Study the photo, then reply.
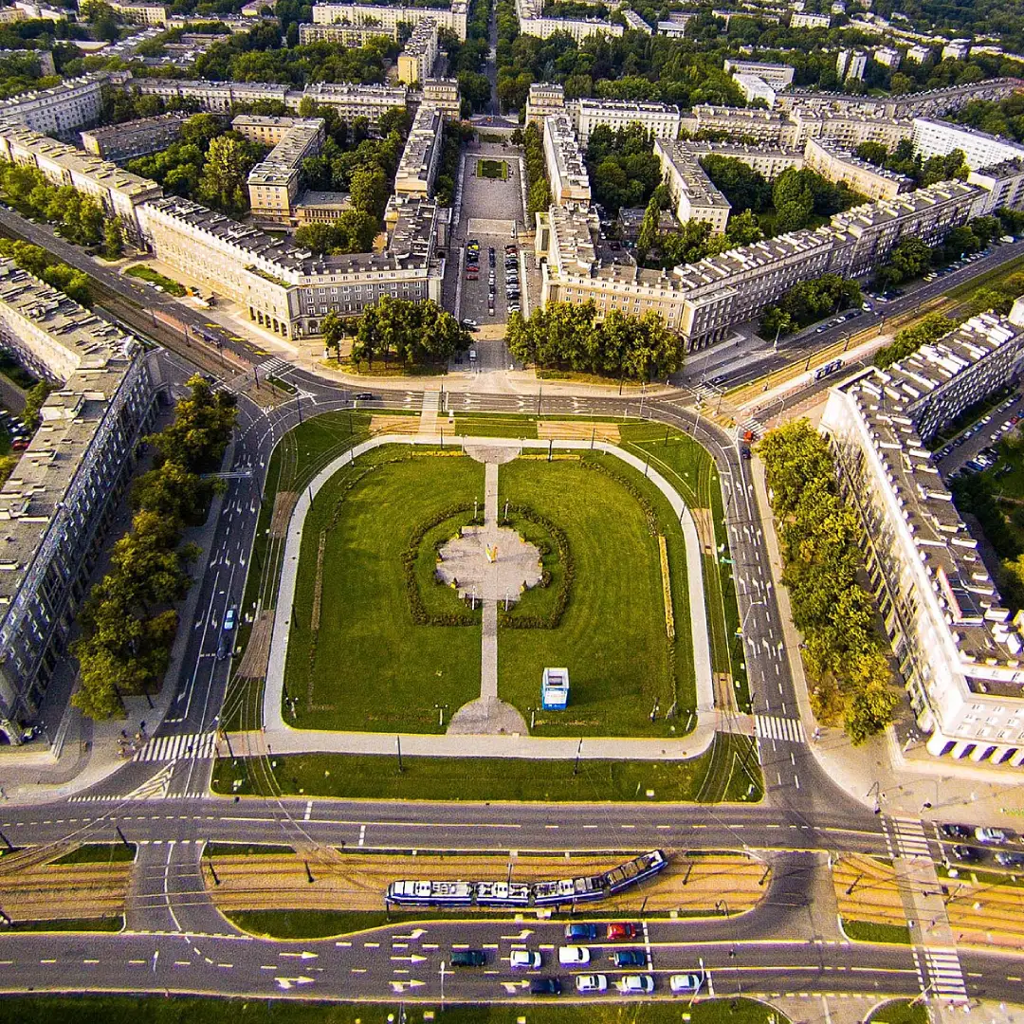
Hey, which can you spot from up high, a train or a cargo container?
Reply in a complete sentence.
Looking from above, you can make out a train.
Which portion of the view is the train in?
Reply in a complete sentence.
The train is in the bottom part of the image.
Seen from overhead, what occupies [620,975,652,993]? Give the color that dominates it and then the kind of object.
white car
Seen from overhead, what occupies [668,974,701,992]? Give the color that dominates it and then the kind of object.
white car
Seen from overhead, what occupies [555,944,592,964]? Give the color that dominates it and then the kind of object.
white vehicle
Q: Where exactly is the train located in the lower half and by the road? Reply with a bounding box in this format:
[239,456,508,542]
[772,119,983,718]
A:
[387,851,669,908]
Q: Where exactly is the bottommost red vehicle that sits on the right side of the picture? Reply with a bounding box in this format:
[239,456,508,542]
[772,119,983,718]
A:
[606,921,638,939]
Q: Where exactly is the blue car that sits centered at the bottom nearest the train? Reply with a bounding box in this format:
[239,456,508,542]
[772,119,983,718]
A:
[565,922,596,940]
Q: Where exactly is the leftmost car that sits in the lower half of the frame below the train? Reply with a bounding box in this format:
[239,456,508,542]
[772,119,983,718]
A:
[451,949,483,968]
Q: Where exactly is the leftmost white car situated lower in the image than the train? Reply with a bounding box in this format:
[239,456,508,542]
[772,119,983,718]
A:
[510,950,541,969]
